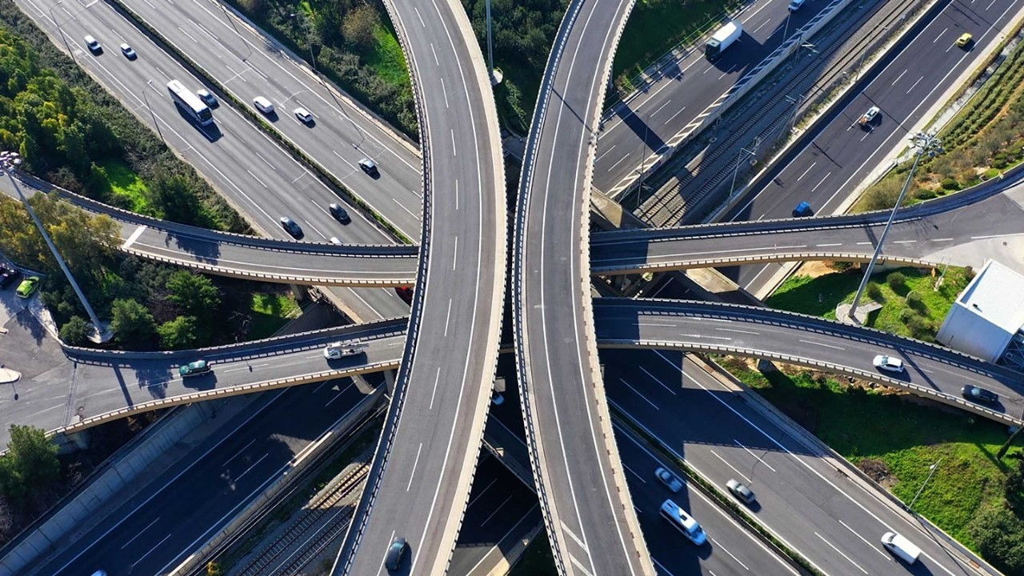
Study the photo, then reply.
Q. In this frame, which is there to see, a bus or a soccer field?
bus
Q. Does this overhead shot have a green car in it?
Yes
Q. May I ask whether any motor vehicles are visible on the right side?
Yes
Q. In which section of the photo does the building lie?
right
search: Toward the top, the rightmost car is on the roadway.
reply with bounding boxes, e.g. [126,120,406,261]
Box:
[957,35,972,47]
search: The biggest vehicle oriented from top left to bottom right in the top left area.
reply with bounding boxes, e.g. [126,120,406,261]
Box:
[167,79,216,124]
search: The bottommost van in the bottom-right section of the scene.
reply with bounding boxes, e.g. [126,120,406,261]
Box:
[880,532,924,568]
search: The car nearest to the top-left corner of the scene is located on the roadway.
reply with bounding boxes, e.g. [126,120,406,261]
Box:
[84,34,102,51]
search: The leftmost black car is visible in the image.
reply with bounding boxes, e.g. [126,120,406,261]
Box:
[0,264,21,287]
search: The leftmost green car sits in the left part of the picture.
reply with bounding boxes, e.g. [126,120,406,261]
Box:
[16,277,40,299]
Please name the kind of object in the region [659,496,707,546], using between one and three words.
vehicle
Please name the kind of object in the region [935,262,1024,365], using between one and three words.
building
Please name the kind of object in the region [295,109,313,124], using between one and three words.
car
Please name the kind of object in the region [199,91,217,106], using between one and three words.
car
